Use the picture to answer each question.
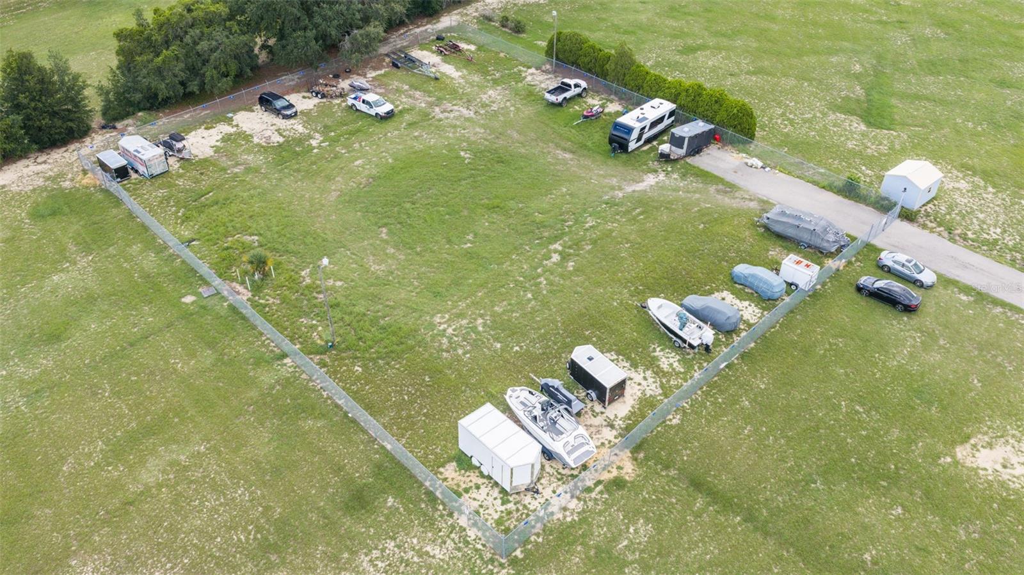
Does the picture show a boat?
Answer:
Yes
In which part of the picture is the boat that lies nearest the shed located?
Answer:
right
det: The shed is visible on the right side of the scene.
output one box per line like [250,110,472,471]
[880,160,944,208]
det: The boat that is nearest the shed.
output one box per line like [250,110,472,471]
[760,207,848,258]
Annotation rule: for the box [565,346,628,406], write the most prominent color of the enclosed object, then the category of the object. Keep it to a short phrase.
white trailer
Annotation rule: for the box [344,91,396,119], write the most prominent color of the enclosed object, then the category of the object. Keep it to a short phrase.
white truck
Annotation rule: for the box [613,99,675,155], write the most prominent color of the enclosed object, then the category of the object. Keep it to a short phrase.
white camper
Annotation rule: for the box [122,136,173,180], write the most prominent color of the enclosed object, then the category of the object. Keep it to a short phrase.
white trailer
